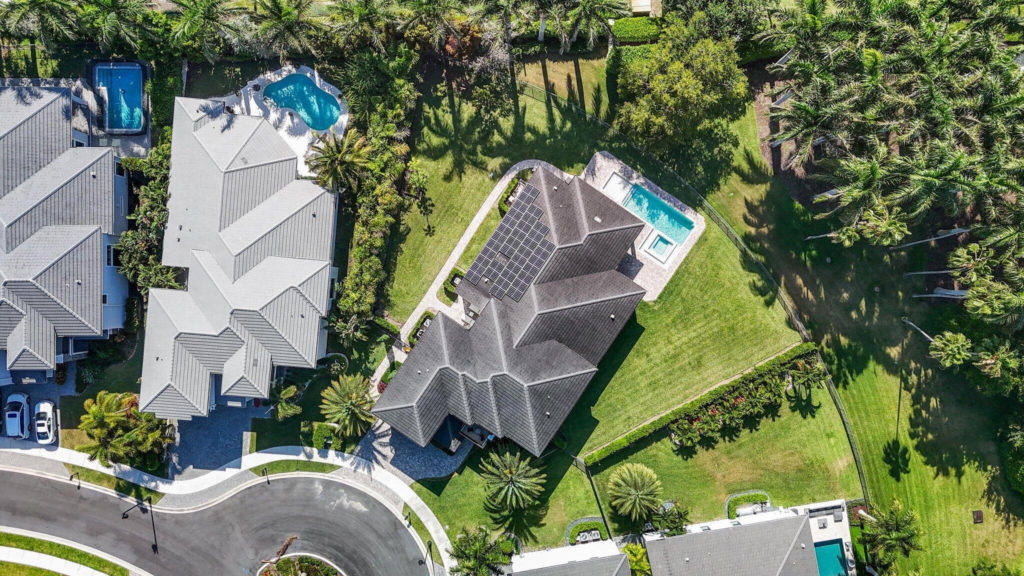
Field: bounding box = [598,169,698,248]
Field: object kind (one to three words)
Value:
swimming pool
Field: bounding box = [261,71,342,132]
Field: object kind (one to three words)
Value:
swimming pool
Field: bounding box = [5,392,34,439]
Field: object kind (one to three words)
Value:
car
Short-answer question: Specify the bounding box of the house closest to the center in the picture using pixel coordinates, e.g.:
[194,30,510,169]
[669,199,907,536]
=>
[371,165,647,457]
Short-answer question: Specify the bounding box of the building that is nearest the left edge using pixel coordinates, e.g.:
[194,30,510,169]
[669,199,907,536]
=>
[0,86,132,383]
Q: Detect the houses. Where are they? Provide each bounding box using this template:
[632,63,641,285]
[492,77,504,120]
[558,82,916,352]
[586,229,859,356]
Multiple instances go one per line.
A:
[0,86,132,383]
[371,165,647,457]
[644,507,820,576]
[507,540,631,576]
[139,95,339,422]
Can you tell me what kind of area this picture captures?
residential area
